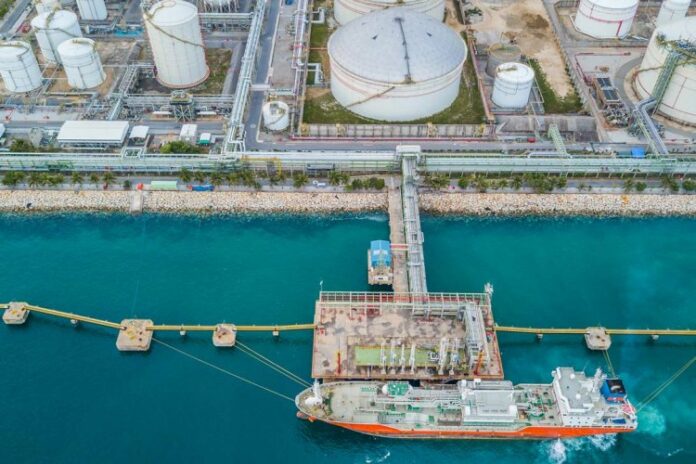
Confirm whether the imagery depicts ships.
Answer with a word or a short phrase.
Yes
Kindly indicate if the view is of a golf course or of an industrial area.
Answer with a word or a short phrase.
industrial area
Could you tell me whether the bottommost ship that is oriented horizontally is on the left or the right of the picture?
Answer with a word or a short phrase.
right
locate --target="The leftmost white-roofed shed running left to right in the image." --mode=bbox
[58,122,130,149]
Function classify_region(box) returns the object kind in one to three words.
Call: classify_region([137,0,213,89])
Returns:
storage tank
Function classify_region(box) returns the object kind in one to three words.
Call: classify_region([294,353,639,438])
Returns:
ship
